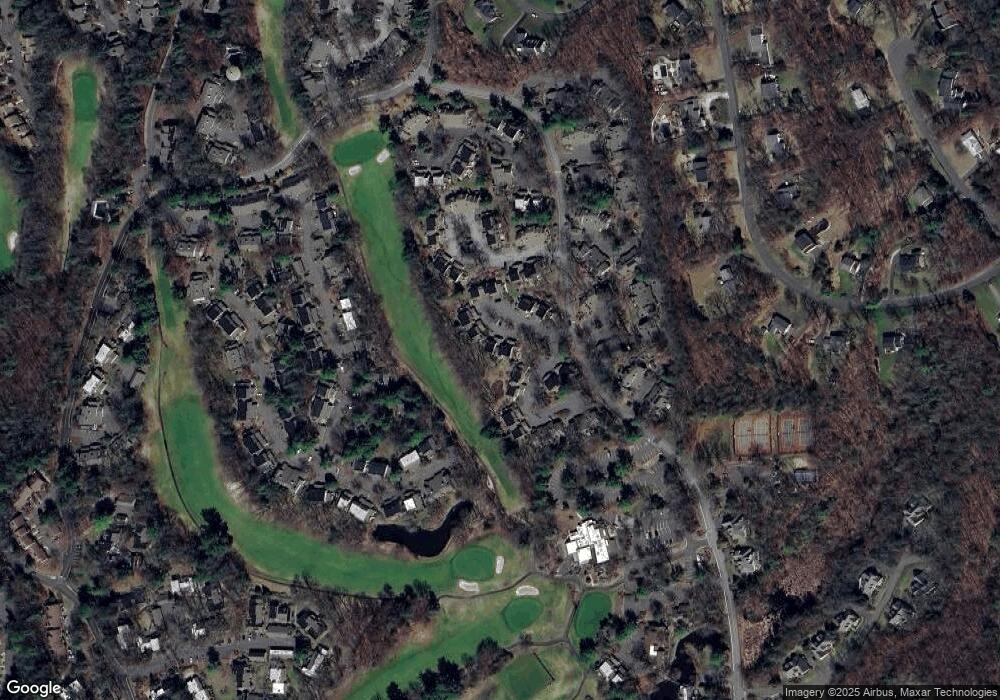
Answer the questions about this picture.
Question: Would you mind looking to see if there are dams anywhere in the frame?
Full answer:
No, I find no dam anywhere in the image.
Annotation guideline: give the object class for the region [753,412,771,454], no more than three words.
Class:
tennis court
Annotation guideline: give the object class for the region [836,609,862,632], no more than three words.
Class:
house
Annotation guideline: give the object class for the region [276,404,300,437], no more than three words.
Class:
house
